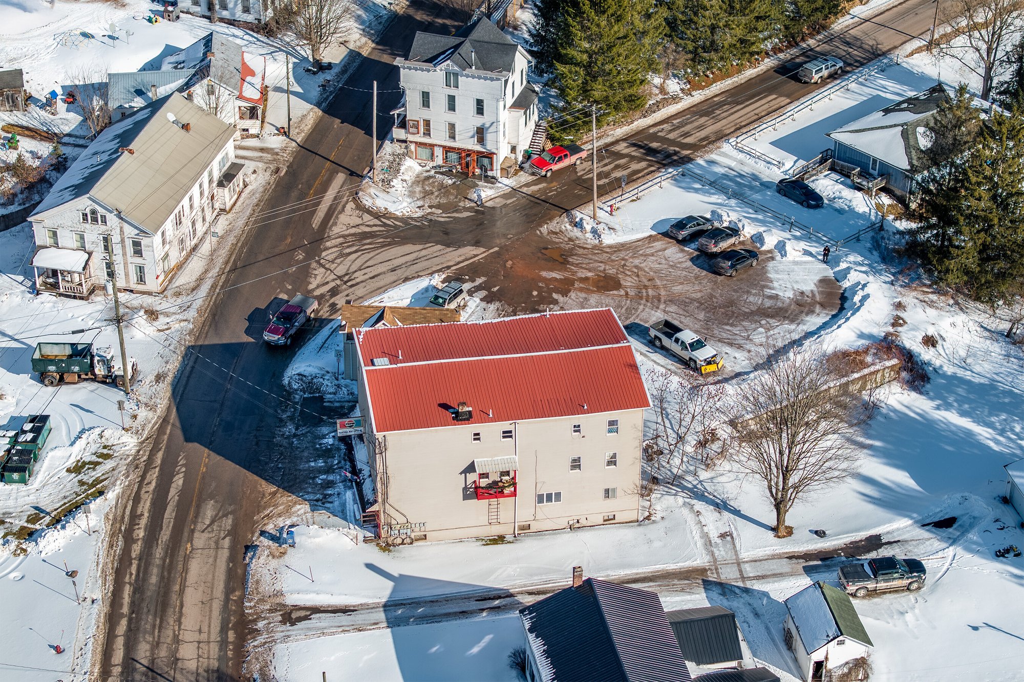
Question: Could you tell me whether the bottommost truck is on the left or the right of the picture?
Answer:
right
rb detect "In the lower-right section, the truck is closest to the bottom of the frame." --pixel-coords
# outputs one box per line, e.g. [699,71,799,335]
[837,557,928,598]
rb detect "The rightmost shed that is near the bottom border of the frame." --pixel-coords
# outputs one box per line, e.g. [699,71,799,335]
[785,582,875,682]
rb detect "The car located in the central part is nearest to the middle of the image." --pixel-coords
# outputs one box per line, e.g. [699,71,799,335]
[421,280,472,316]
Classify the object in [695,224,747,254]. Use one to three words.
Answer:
car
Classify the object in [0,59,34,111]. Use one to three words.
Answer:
barn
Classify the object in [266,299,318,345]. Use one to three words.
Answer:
truck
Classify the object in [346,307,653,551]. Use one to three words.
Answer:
building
